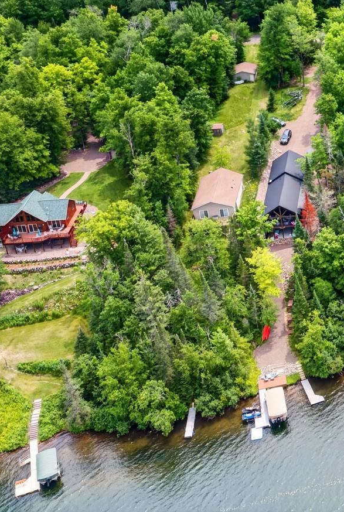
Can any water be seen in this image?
Yes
